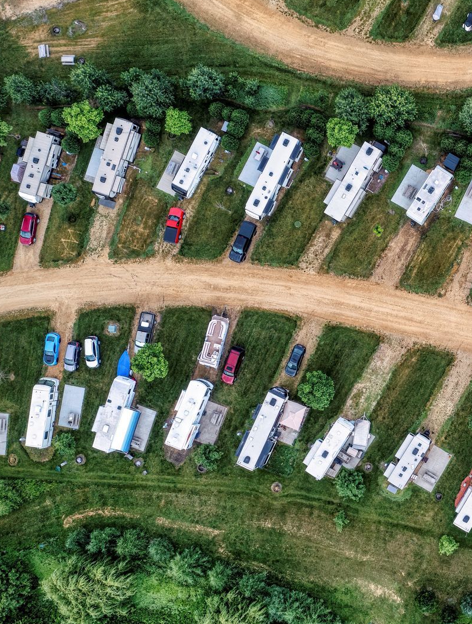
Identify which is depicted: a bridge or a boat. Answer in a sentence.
This aerial view contains a boat.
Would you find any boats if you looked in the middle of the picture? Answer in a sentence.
Yes, a boat can be seen in the middle of the picture.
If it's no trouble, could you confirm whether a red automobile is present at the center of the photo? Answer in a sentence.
Yes, there is a red automobile at the center of the photo.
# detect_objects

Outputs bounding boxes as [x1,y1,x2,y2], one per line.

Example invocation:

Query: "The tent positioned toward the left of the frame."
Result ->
[6,162,27,182]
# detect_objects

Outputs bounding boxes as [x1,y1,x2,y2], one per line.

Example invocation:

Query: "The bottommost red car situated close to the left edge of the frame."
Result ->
[19,214,39,245]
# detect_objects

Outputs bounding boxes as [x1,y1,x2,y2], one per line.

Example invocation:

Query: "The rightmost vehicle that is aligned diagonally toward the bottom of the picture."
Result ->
[383,424,434,489]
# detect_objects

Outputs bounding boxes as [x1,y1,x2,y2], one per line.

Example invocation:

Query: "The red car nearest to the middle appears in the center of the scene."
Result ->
[222,347,245,385]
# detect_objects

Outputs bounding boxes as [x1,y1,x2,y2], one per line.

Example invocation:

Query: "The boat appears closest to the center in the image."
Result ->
[198,310,228,369]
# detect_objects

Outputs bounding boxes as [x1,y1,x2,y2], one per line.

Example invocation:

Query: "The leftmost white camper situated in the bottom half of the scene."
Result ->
[26,378,64,448]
